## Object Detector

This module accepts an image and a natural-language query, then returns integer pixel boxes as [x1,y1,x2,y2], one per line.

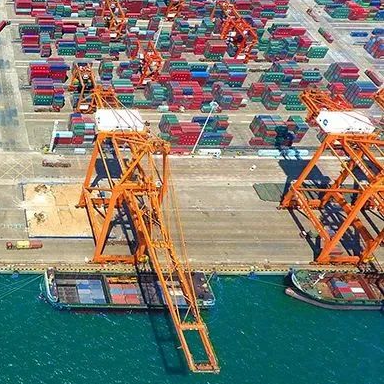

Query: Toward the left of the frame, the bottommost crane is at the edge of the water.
[72,87,227,373]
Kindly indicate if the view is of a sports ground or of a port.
port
